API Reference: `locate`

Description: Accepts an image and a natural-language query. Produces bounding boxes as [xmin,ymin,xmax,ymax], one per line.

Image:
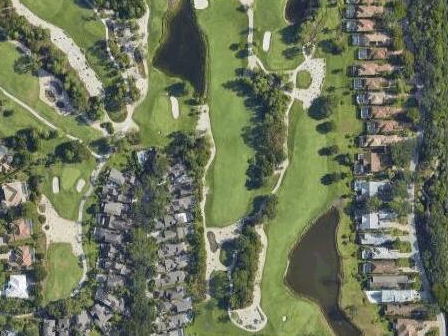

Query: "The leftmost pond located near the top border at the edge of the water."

[153,0,206,94]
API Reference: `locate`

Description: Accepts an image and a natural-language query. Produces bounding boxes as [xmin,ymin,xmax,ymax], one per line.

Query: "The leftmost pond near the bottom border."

[284,206,362,336]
